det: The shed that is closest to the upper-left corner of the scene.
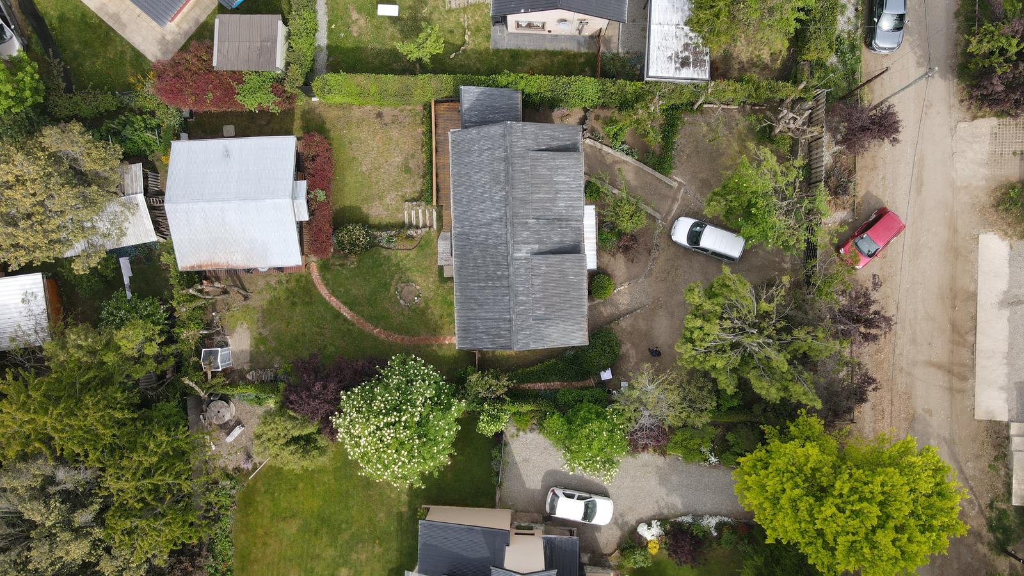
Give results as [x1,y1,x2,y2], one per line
[131,0,203,37]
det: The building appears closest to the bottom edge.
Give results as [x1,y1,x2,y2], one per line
[404,503,579,576]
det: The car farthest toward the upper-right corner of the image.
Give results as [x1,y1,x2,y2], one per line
[863,0,905,52]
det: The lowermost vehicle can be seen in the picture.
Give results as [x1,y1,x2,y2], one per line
[545,485,613,526]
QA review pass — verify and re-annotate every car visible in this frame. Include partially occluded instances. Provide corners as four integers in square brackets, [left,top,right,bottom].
[668,217,747,263]
[0,0,31,62]
[863,0,905,52]
[837,207,909,269]
[545,485,613,526]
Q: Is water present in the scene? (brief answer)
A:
No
